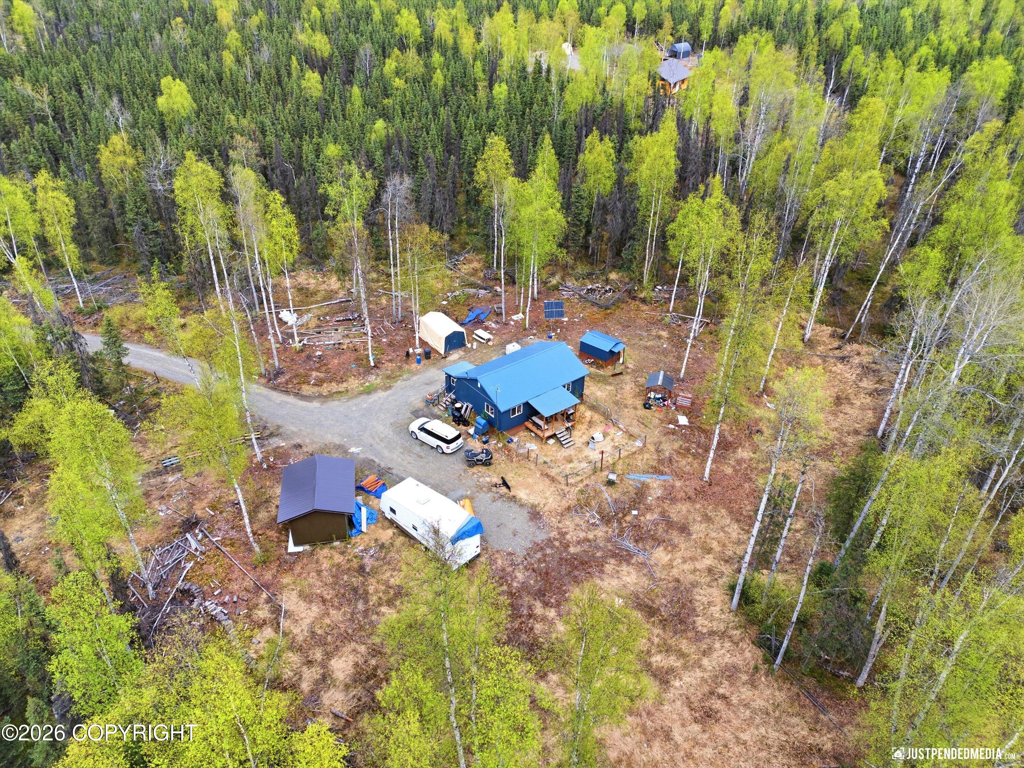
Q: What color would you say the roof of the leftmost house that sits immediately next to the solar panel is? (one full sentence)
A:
The roof of the leftmost house that sits immediately next to the solar panel is blue.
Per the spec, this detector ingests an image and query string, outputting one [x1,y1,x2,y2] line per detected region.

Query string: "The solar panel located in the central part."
[542,302,562,331]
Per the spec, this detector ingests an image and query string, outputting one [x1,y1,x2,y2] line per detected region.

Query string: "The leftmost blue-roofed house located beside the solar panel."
[438,342,590,448]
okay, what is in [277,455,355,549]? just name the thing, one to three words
shed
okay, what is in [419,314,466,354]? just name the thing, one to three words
shed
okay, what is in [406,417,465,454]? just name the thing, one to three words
car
